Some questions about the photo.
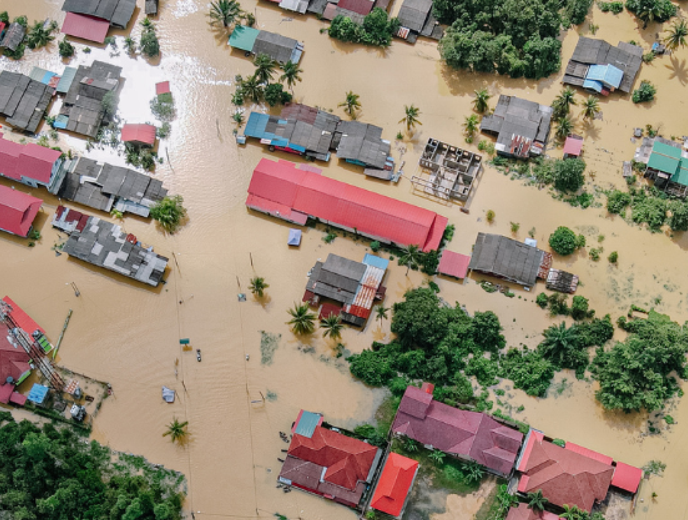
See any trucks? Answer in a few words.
No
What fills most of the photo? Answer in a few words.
water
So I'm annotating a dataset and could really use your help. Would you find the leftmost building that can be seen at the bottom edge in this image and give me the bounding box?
[279,409,374,508]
